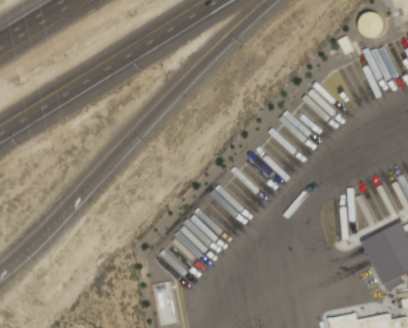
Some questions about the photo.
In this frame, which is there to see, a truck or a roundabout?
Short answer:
truck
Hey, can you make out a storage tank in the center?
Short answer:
No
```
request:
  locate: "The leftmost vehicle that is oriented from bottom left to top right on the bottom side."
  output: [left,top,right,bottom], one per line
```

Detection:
[282,184,316,218]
